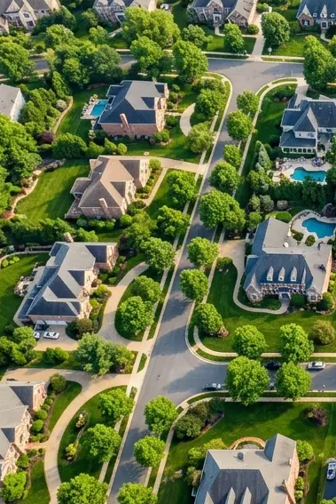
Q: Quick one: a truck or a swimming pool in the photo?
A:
swimming pool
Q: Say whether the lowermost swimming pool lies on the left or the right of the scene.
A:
right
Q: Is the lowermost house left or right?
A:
right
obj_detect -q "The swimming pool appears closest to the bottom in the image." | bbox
[301,216,336,240]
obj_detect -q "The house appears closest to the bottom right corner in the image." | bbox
[195,434,306,504]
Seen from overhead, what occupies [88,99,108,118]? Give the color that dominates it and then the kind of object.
blue swimming pool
